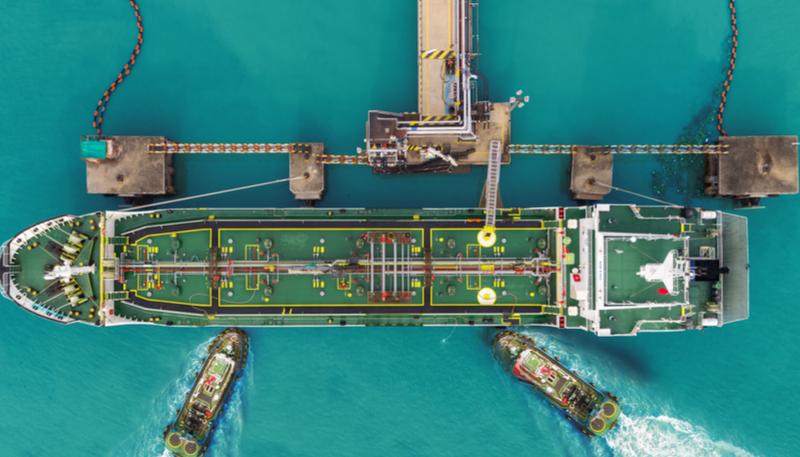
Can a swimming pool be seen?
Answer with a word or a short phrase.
No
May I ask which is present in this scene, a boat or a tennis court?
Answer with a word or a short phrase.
boat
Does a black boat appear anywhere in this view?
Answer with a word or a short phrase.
No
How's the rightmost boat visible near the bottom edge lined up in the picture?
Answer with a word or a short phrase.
diagonally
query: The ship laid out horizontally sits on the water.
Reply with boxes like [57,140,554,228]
[0,205,753,336]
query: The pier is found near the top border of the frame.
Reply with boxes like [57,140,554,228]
[418,0,480,118]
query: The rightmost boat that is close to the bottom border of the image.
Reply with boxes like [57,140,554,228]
[488,327,627,439]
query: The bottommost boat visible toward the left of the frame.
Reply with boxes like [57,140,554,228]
[158,327,250,457]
